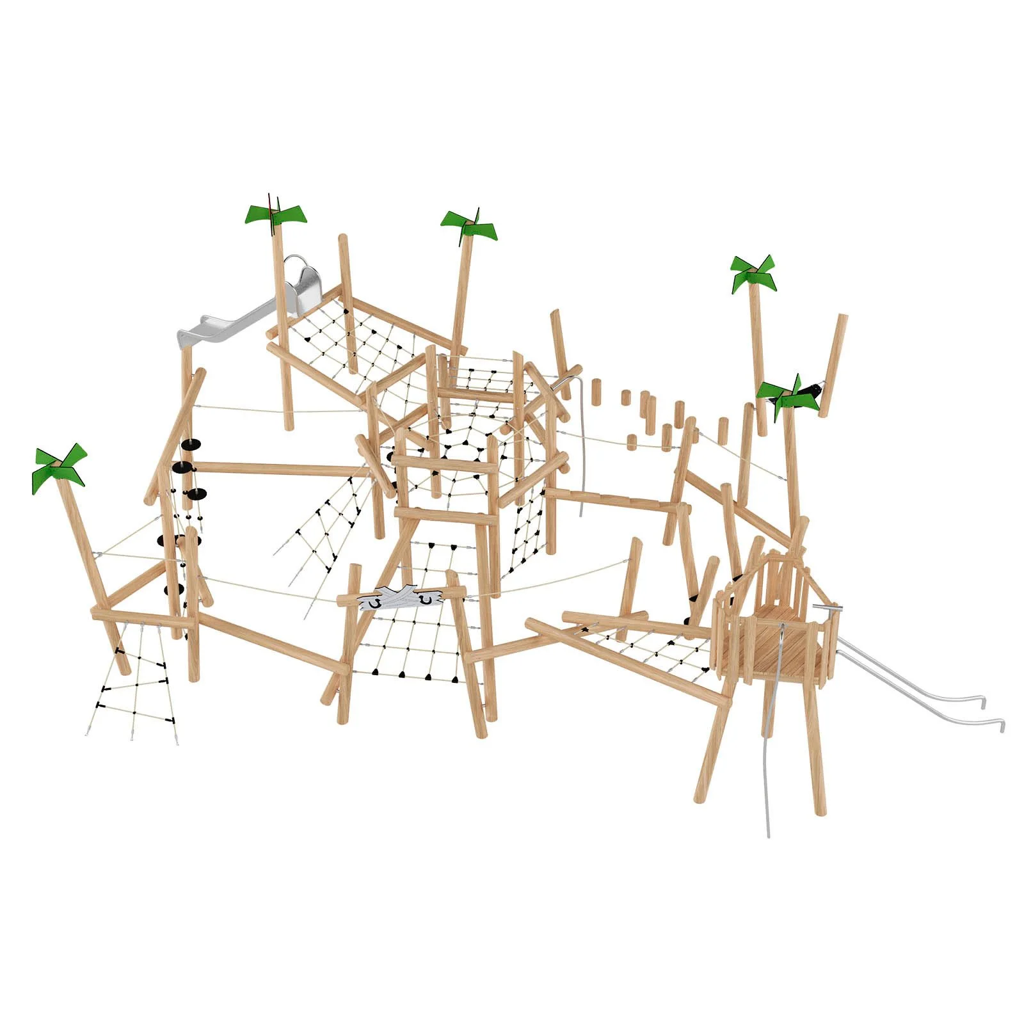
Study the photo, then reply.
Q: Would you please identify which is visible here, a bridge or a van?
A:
bridge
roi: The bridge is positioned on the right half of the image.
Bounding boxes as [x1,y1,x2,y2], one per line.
[527,611,732,707]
